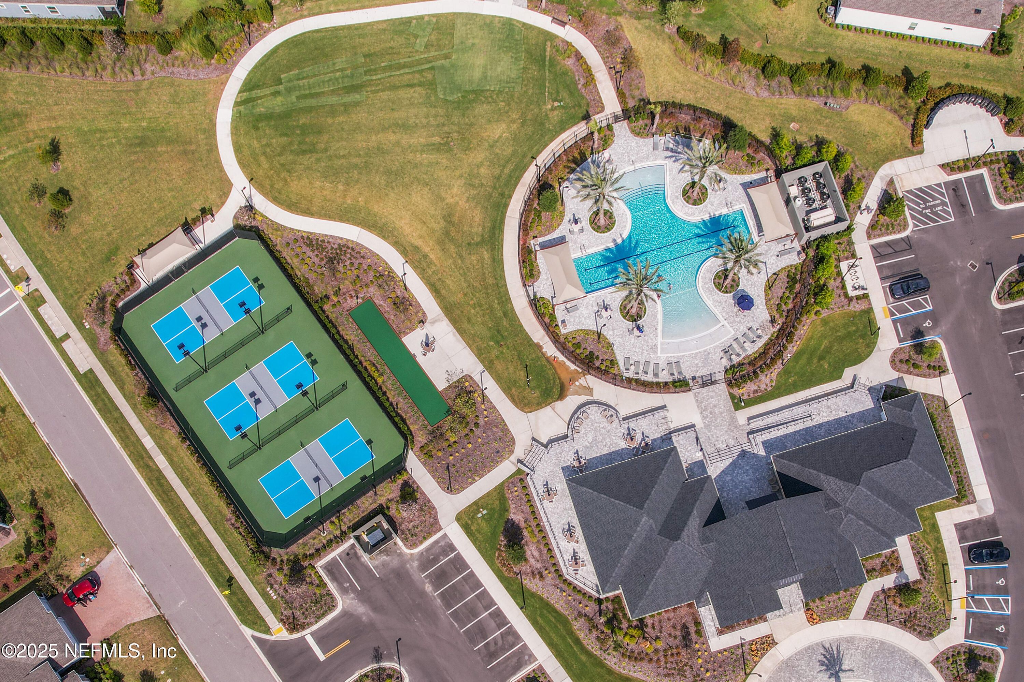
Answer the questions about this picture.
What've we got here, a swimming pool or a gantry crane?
swimming pool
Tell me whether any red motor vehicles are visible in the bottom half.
Yes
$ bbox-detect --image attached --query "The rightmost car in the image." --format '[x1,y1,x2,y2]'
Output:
[968,546,1012,565]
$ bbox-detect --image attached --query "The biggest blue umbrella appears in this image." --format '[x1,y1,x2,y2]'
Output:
[737,294,754,311]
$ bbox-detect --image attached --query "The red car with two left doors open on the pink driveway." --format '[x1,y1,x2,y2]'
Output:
[61,577,101,608]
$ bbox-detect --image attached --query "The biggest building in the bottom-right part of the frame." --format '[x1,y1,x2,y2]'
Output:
[565,392,959,629]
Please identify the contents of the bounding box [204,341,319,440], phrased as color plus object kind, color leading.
blue sports court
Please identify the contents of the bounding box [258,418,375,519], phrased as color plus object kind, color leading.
blue sports court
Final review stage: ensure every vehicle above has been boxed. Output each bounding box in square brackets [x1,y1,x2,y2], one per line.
[889,275,931,298]
[968,546,1012,565]
[61,577,101,608]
